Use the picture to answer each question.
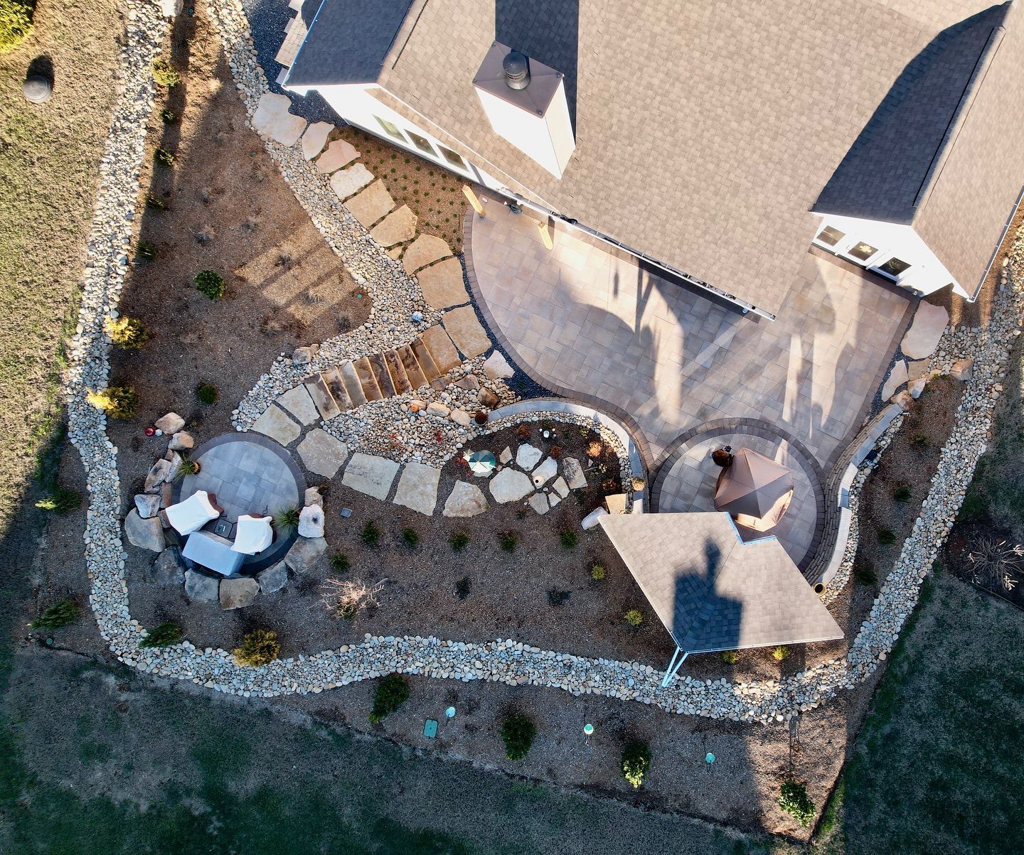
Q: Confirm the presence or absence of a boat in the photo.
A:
No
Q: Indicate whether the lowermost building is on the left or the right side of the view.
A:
right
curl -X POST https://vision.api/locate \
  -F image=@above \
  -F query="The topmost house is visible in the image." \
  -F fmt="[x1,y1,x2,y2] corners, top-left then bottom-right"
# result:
[277,0,1024,325]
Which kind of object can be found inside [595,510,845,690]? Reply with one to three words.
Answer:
building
